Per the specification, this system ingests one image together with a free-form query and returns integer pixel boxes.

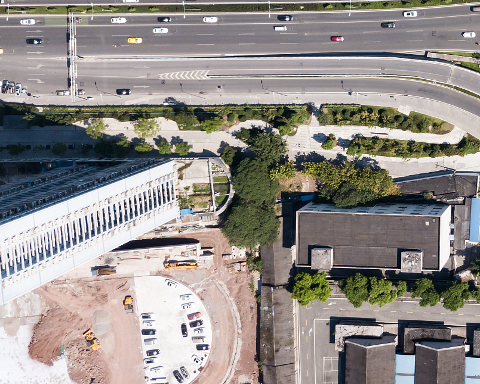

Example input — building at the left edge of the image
[0,147,190,299]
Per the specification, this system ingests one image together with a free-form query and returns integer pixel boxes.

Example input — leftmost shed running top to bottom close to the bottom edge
[260,244,299,384]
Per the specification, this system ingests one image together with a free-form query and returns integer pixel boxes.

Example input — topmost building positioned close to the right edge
[394,172,480,196]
